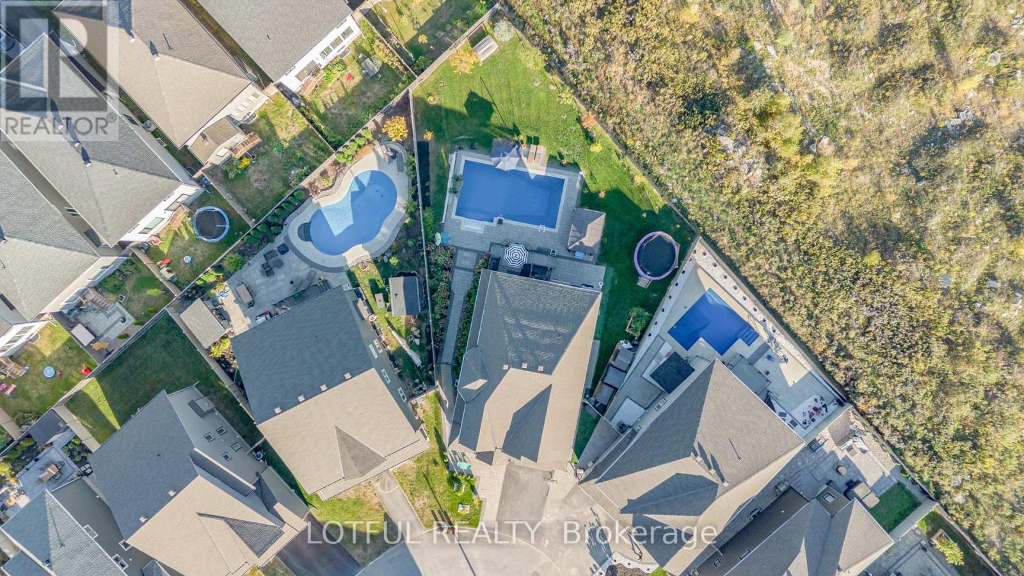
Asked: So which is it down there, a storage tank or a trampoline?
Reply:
trampoline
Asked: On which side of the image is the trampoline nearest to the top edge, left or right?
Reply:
left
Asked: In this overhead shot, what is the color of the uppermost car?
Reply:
blue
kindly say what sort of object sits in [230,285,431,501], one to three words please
house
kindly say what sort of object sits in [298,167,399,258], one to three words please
swimming pool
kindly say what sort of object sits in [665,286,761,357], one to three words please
swimming pool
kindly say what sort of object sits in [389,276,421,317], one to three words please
shed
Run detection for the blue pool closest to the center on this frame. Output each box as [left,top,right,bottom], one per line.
[451,155,569,233]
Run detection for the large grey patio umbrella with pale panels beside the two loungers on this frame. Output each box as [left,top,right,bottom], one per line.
[490,142,520,172]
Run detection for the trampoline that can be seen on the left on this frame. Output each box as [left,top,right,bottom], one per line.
[185,203,231,243]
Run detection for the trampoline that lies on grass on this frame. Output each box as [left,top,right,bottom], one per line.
[633,232,681,278]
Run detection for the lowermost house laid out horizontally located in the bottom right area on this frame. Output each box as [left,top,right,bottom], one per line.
[688,485,894,576]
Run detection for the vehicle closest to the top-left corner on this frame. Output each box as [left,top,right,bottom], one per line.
[0,28,24,63]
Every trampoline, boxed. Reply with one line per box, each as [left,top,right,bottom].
[185,203,231,243]
[633,232,681,278]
